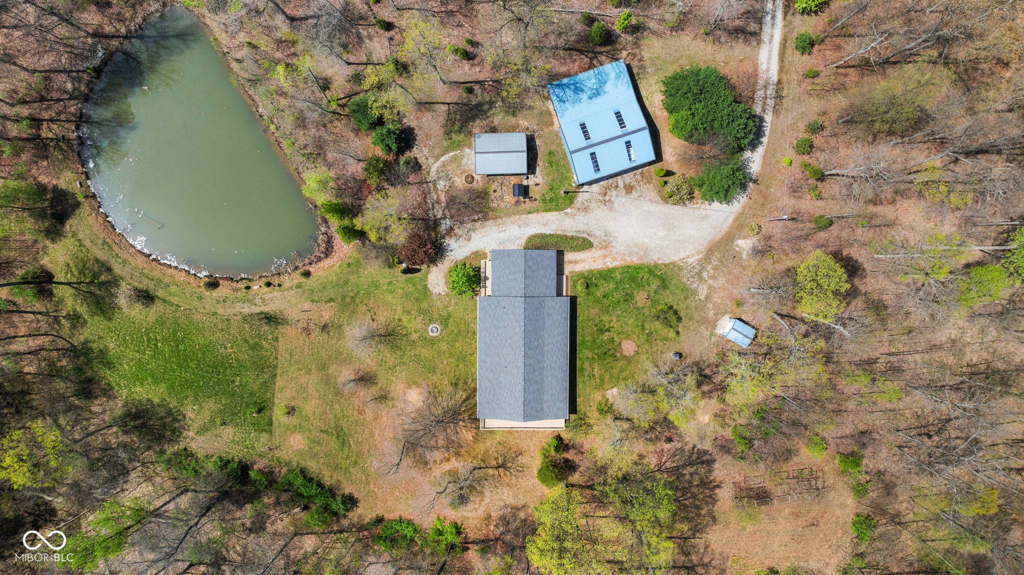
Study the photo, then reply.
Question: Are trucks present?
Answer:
No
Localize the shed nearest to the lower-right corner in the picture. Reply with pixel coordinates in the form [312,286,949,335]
[720,319,755,347]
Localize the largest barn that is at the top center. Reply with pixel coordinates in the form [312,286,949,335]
[546,60,656,185]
